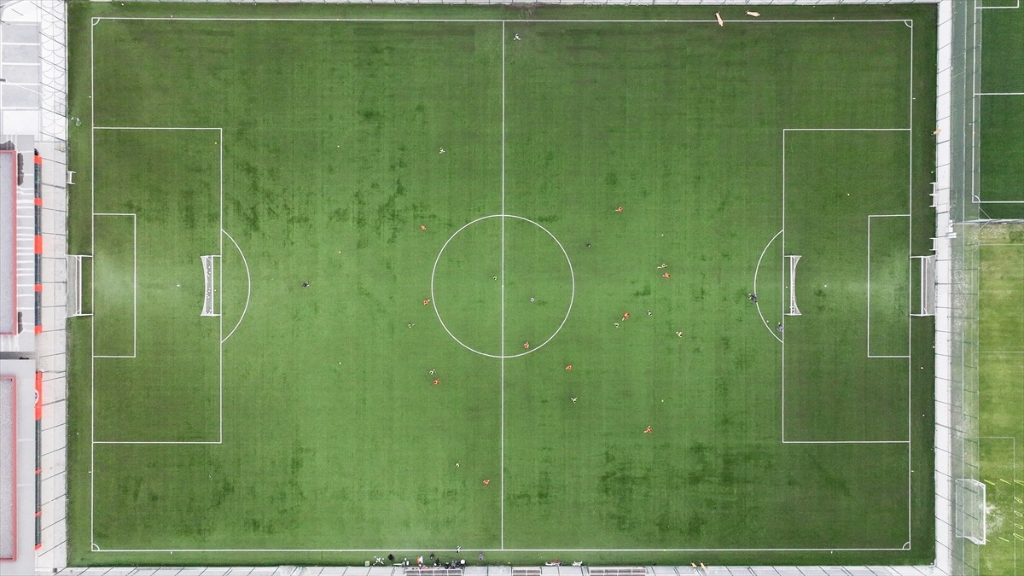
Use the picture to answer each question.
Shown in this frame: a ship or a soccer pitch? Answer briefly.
soccer pitch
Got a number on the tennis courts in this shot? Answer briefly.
none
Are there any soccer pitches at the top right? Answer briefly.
Yes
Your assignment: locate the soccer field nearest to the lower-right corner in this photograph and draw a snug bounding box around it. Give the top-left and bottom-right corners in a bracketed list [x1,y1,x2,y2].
[962,224,1024,576]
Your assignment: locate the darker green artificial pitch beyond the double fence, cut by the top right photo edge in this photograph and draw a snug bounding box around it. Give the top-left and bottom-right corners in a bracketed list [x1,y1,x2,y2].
[951,0,1024,222]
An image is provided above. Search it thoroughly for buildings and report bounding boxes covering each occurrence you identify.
[0,358,44,576]
[0,135,43,351]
